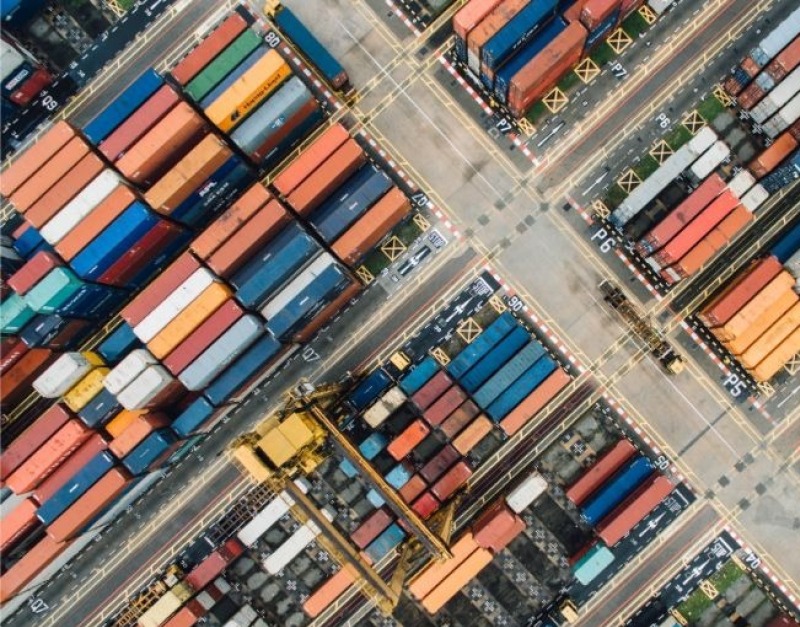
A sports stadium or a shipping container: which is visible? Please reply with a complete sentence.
Visible in the photo is a shipping container.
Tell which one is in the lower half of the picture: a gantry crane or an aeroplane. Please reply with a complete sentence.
What appears in the lower half of the picture is a gantry crane.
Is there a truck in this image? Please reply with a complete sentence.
Yes, a truck is visible in the scene.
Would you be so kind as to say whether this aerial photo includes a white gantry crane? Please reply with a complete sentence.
No, the picture doesn't show any white gantry crane.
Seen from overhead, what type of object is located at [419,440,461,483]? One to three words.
shipping container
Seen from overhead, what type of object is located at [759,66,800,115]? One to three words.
shipping container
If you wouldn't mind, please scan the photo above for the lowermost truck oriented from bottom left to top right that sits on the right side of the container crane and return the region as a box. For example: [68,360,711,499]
[531,583,589,627]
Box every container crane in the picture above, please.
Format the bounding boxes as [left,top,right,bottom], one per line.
[235,377,463,614]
